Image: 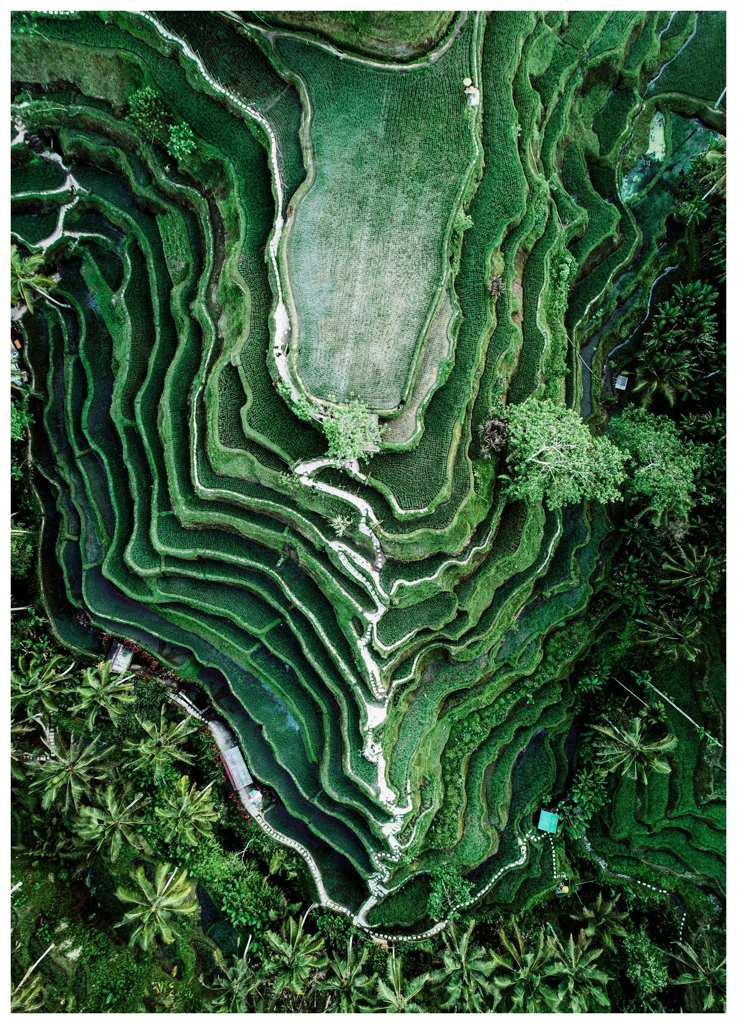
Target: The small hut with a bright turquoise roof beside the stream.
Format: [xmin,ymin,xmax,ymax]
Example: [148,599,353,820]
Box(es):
[535,808,559,834]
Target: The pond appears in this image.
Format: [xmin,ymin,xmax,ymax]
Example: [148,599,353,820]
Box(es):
[622,112,665,201]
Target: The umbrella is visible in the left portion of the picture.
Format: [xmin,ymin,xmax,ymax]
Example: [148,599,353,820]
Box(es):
[248,789,262,804]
